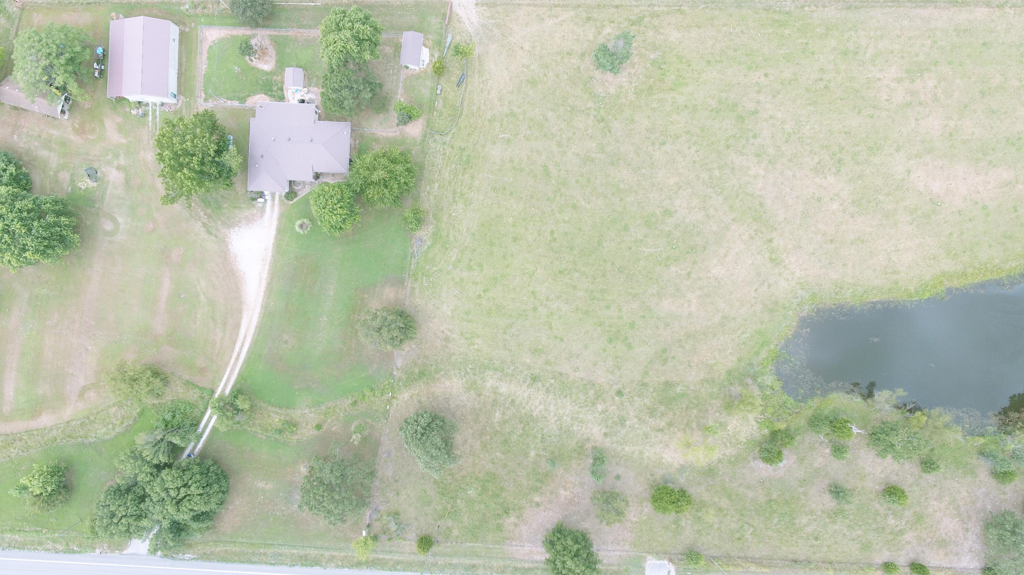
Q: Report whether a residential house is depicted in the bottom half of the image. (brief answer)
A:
No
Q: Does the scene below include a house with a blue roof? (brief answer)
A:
No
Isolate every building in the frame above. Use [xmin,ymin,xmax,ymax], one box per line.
[0,73,71,119]
[107,15,178,102]
[399,30,424,70]
[248,101,352,192]
[285,67,305,91]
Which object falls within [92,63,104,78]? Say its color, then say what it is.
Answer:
white vehicle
